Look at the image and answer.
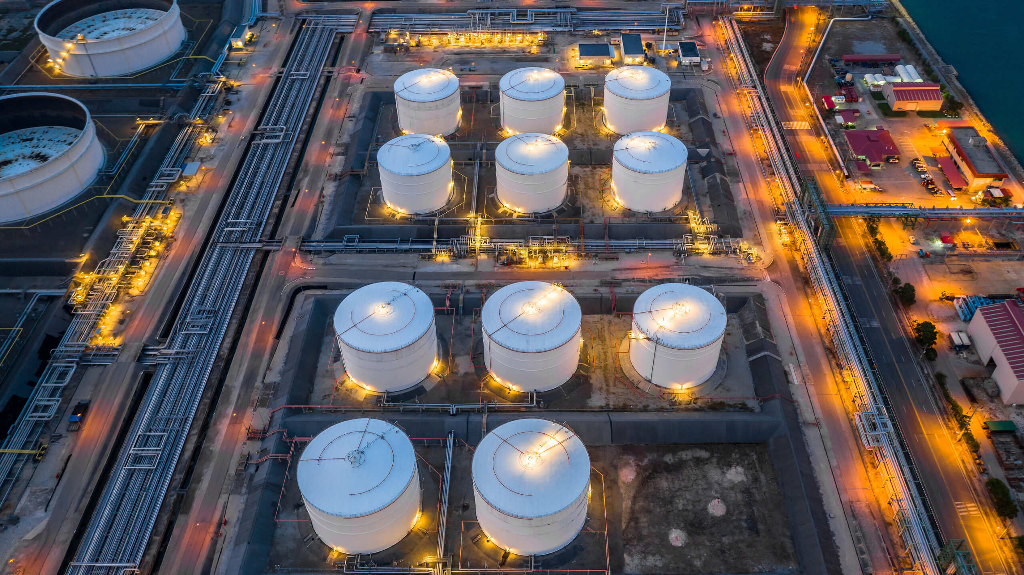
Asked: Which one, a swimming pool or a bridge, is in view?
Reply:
bridge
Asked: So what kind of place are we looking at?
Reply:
industrial area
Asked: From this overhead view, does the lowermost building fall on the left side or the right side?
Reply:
right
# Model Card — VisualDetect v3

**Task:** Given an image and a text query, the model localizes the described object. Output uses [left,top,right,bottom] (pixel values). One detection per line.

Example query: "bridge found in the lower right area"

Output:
[950,531,1001,575]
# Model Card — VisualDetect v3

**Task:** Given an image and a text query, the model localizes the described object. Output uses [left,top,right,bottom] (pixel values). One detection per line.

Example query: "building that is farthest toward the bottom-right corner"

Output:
[967,300,1024,405]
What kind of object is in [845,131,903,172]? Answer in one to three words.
house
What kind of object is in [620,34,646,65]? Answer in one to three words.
building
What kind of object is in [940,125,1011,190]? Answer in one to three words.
building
